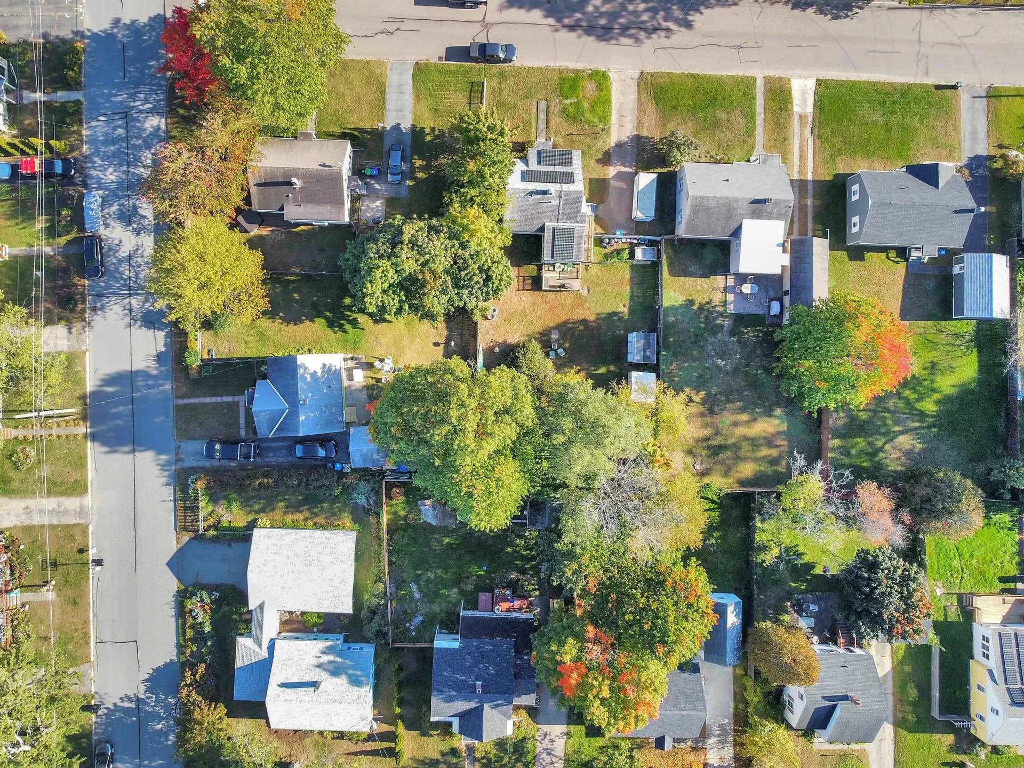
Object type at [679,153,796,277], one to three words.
house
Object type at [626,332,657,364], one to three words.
shed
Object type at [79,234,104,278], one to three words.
car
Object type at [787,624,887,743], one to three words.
house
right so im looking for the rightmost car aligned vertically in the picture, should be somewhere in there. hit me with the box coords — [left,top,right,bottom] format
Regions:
[384,141,403,184]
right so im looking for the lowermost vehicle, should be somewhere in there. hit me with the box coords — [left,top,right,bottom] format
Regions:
[91,737,113,768]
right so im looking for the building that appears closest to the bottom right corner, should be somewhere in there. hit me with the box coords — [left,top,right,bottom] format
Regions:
[961,594,1024,745]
